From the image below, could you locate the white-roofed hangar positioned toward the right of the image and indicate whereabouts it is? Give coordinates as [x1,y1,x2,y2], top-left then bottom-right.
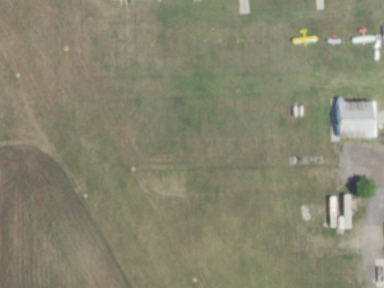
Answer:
[336,96,378,140]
